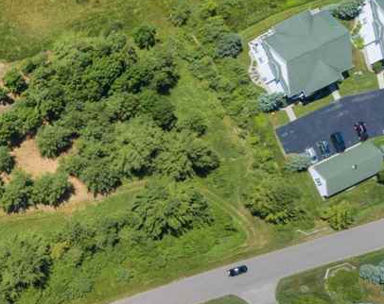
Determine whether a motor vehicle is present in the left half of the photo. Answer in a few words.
No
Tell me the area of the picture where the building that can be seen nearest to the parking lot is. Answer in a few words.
right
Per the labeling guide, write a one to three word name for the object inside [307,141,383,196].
building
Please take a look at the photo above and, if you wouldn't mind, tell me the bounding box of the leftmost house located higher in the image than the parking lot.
[251,6,354,98]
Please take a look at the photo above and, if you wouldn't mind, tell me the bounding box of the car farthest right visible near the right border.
[353,119,370,142]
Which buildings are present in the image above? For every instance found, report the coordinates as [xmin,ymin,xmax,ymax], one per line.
[251,6,354,98]
[307,141,383,196]
[353,0,384,62]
